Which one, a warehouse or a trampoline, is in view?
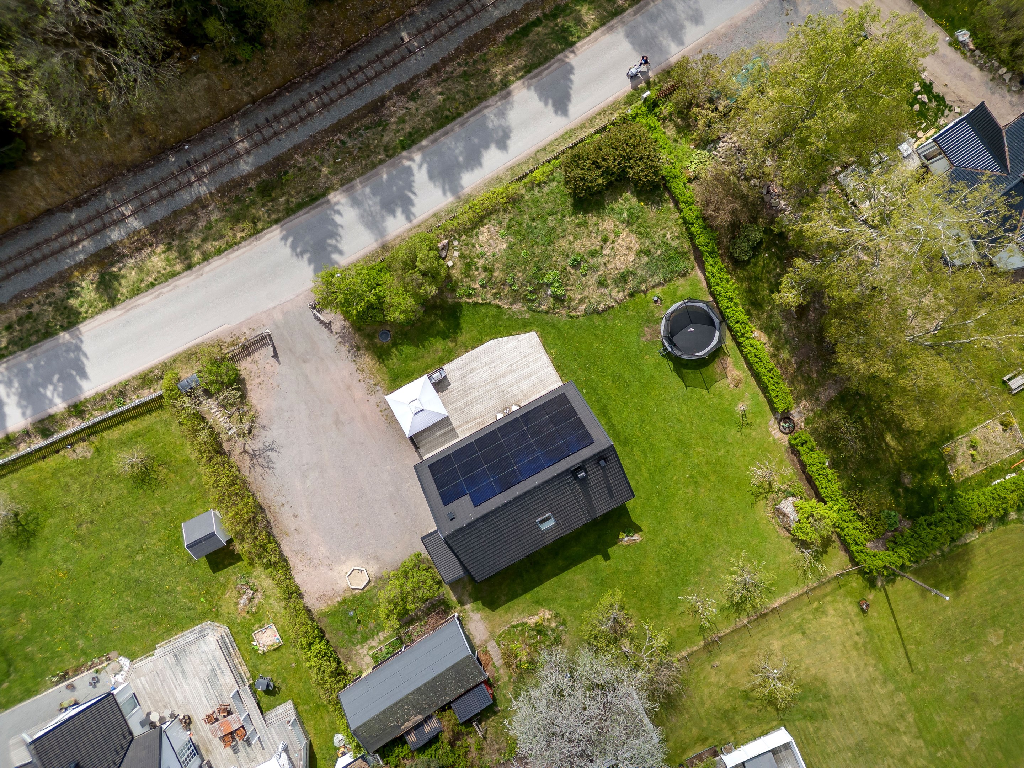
trampoline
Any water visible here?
No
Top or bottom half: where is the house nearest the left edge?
bottom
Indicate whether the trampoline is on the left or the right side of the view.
right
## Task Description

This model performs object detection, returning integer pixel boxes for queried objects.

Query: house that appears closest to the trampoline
[413,379,637,584]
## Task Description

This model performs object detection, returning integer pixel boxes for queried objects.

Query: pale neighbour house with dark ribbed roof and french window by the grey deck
[16,685,201,768]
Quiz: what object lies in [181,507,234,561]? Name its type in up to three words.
shed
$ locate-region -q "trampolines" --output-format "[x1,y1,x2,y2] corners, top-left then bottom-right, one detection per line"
[656,295,729,361]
